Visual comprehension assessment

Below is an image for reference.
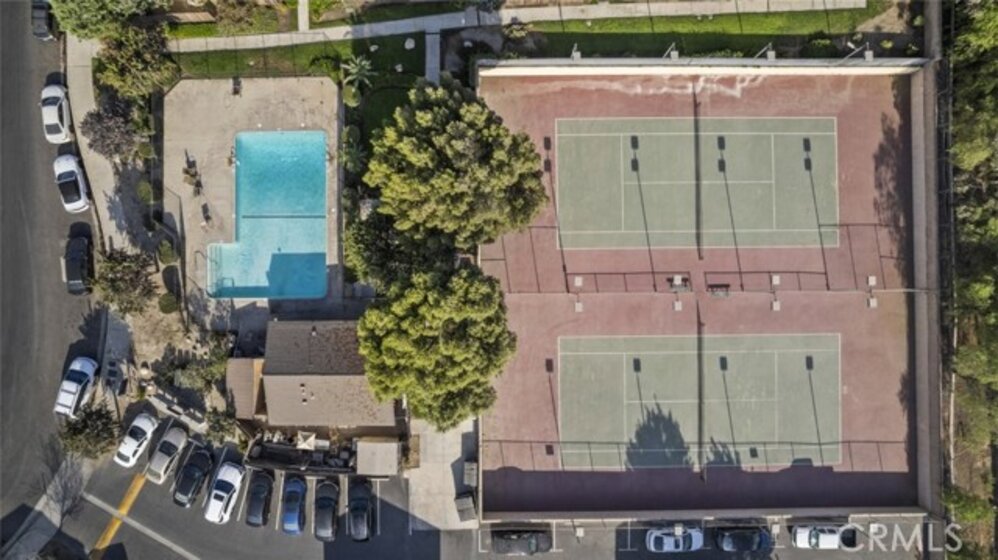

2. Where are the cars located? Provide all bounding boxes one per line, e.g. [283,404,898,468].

[62,233,95,291]
[248,469,275,525]
[41,86,73,143]
[489,527,553,557]
[148,426,187,482]
[27,0,58,42]
[714,526,771,554]
[119,411,158,467]
[313,479,340,539]
[57,358,97,414]
[207,462,244,521]
[644,526,704,554]
[175,445,212,504]
[55,155,91,213]
[346,478,372,538]
[281,473,307,531]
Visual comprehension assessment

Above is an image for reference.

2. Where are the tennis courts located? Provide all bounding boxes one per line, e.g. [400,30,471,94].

[482,75,914,292]
[482,292,917,511]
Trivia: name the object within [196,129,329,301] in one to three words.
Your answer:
swimming pool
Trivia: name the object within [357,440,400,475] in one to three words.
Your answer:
shed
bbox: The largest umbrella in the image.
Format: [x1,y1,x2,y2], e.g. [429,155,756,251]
[298,429,318,449]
